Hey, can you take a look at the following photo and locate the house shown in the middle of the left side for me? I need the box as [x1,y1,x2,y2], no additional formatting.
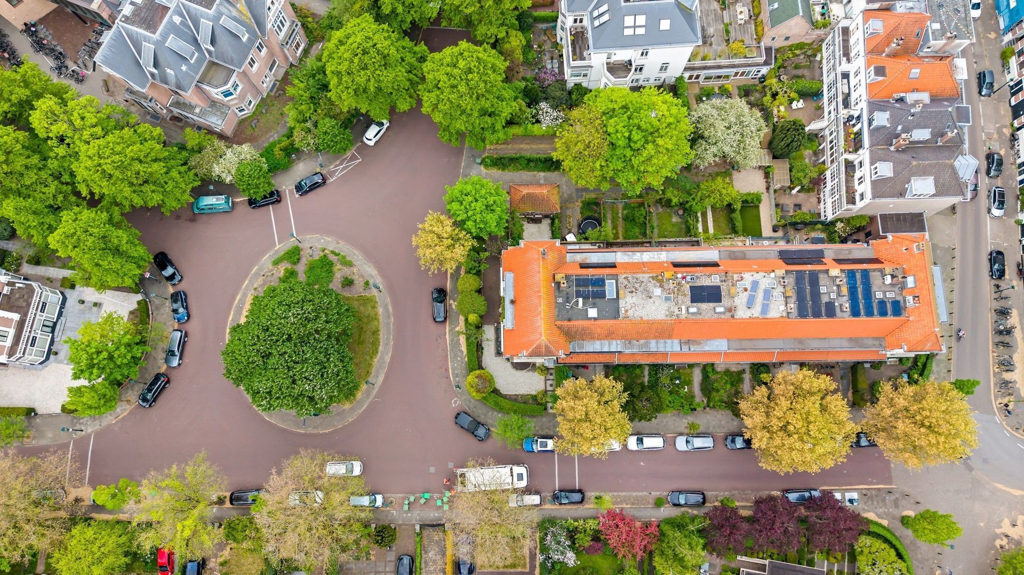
[0,269,77,371]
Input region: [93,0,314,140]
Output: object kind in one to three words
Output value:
house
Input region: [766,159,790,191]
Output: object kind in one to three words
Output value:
shed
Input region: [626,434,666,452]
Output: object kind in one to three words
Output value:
car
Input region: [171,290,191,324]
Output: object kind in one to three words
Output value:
car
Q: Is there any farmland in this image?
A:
No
